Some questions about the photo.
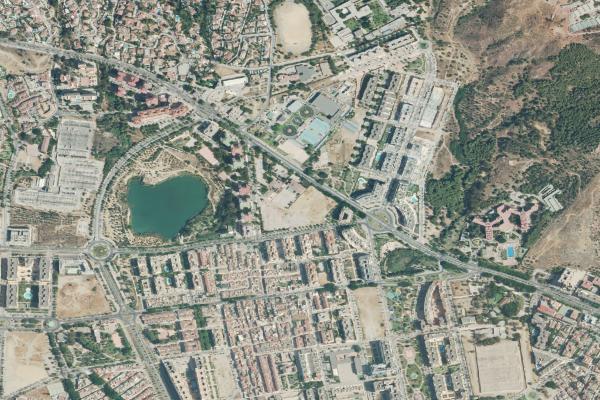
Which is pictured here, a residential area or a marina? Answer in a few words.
residential area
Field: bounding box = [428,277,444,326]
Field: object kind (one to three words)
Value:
building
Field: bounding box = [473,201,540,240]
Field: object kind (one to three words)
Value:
building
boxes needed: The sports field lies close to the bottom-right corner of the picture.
[478,340,524,393]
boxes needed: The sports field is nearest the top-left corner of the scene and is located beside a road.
[275,0,311,53]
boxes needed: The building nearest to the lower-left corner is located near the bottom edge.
[47,377,67,399]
